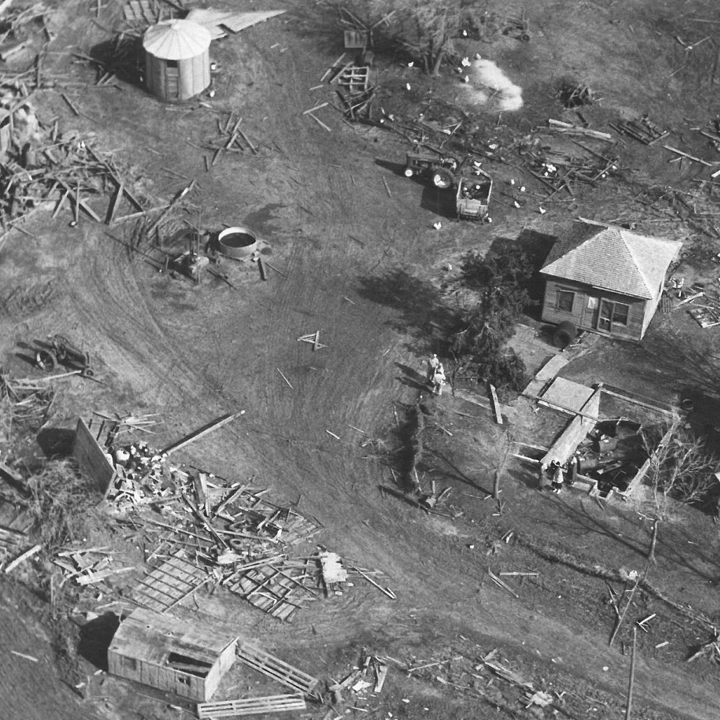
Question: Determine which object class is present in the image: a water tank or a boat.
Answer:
water tank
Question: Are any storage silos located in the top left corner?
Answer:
Yes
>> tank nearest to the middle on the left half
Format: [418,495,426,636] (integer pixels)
[218,229,256,260]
